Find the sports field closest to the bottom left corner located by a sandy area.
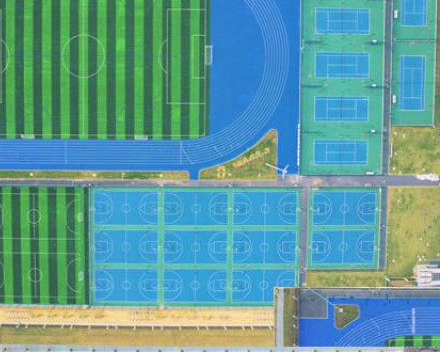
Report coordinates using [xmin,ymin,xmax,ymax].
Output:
[0,244,86,306]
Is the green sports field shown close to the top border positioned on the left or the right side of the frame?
left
